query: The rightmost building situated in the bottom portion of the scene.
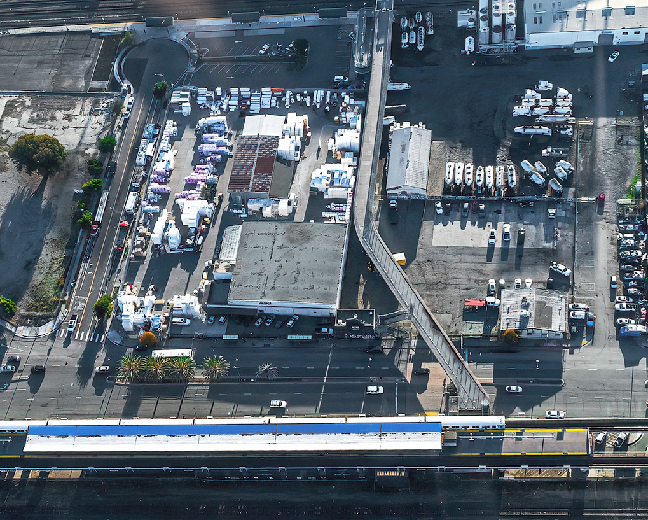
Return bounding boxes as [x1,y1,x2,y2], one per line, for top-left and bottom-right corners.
[499,287,568,338]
